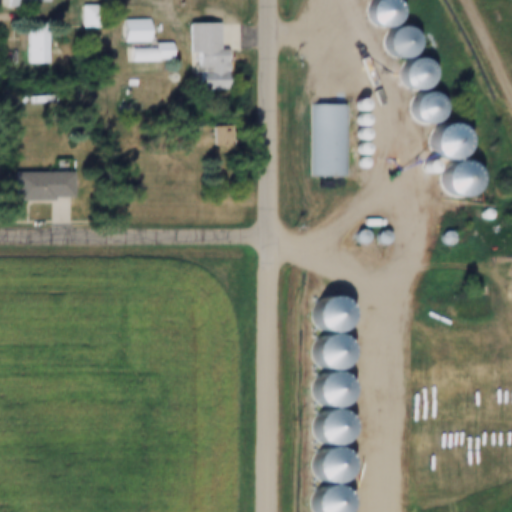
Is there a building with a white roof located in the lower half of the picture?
No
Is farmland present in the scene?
Yes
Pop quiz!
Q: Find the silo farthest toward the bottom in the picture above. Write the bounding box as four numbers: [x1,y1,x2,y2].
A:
[312,482,360,512]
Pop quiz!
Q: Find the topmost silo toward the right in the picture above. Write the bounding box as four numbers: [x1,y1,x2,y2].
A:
[365,0,410,31]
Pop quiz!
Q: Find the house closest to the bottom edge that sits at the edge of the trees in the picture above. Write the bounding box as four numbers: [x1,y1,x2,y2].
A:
[20,172,78,200]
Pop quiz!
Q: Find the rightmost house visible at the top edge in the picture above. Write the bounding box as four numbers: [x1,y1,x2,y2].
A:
[190,22,233,90]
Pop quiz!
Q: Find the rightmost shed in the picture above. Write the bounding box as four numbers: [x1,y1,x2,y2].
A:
[307,103,349,177]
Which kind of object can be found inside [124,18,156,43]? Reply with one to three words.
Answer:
building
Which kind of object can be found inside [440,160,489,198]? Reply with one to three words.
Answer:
silo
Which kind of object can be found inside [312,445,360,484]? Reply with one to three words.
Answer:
silo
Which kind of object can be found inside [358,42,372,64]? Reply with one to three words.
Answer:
vehicle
